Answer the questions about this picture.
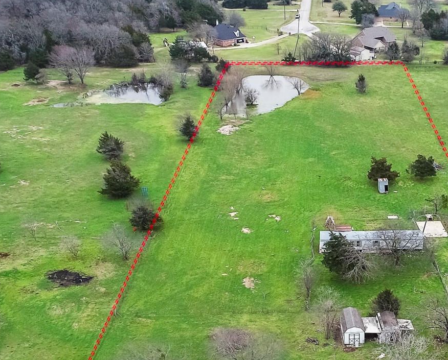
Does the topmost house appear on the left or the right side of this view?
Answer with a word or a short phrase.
right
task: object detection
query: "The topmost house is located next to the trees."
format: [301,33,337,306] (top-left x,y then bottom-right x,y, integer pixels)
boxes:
[380,0,426,21]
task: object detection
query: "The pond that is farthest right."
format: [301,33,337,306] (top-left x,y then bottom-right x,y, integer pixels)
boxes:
[223,75,310,117]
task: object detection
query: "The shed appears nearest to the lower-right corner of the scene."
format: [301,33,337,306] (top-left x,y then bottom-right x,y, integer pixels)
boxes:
[379,311,400,342]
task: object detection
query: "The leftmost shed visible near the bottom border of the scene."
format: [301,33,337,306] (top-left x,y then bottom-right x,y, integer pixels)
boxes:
[341,308,366,346]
